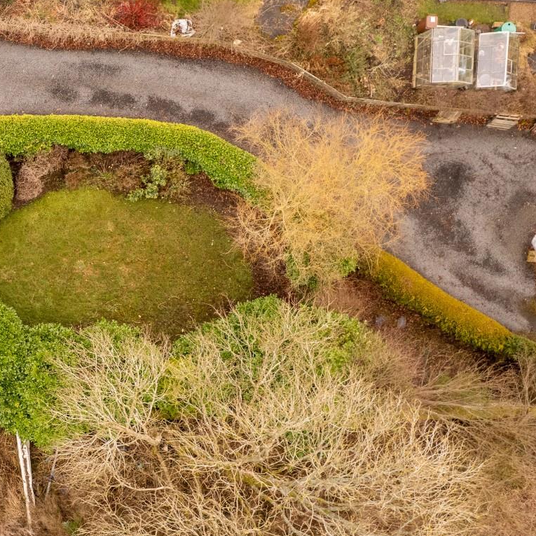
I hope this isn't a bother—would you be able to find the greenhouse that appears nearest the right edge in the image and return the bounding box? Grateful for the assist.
[463,29,519,93]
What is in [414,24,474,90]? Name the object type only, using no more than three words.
greenhouse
